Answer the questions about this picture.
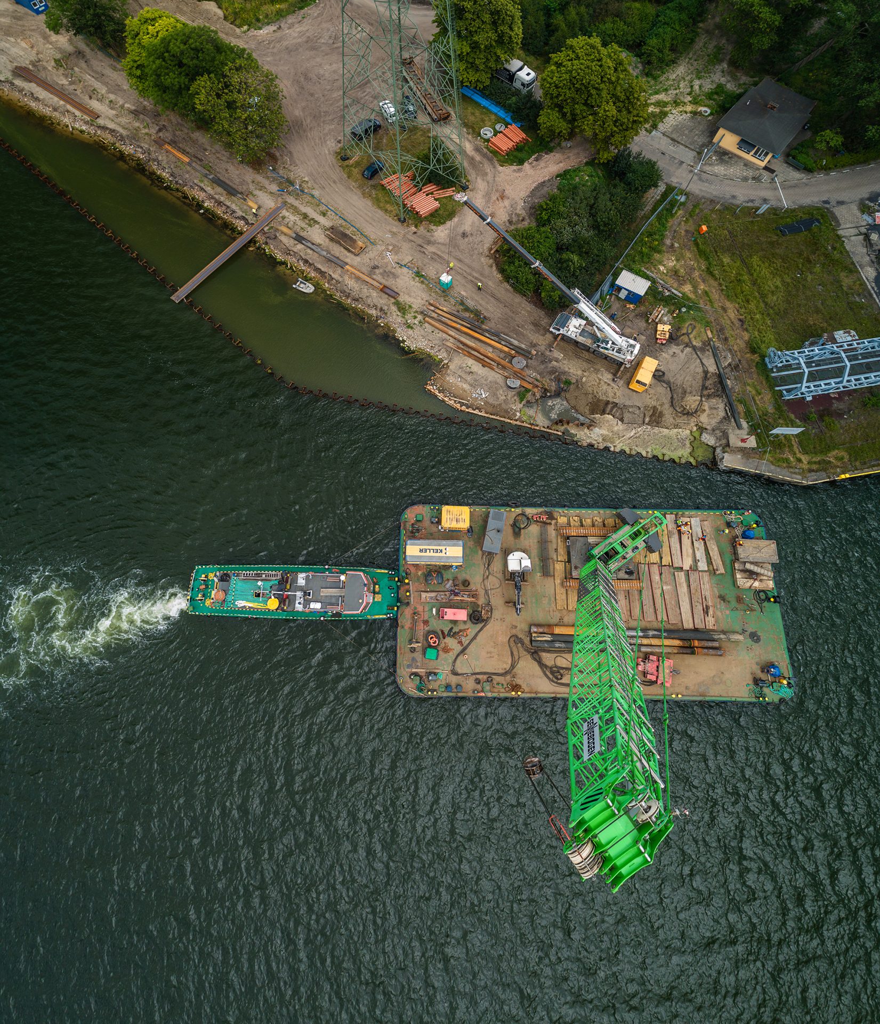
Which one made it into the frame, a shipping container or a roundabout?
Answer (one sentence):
It is a shipping container that can be seen here.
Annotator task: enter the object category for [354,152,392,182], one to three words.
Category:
car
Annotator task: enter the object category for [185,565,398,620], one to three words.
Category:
boat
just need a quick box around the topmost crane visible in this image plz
[446,189,645,390]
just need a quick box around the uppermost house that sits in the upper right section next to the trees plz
[710,79,817,167]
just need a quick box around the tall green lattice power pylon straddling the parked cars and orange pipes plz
[335,0,472,227]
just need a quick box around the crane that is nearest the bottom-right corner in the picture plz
[475,495,690,889]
